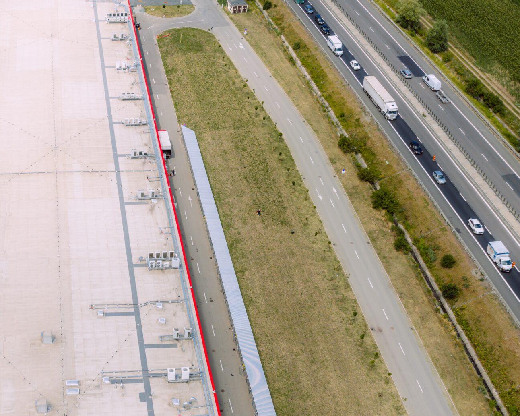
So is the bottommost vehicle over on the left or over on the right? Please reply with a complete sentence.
The bottommost vehicle sits on the right side.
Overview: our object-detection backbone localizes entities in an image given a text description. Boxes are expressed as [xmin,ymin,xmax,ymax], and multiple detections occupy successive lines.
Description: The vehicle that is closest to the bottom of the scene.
[489,239,514,272]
